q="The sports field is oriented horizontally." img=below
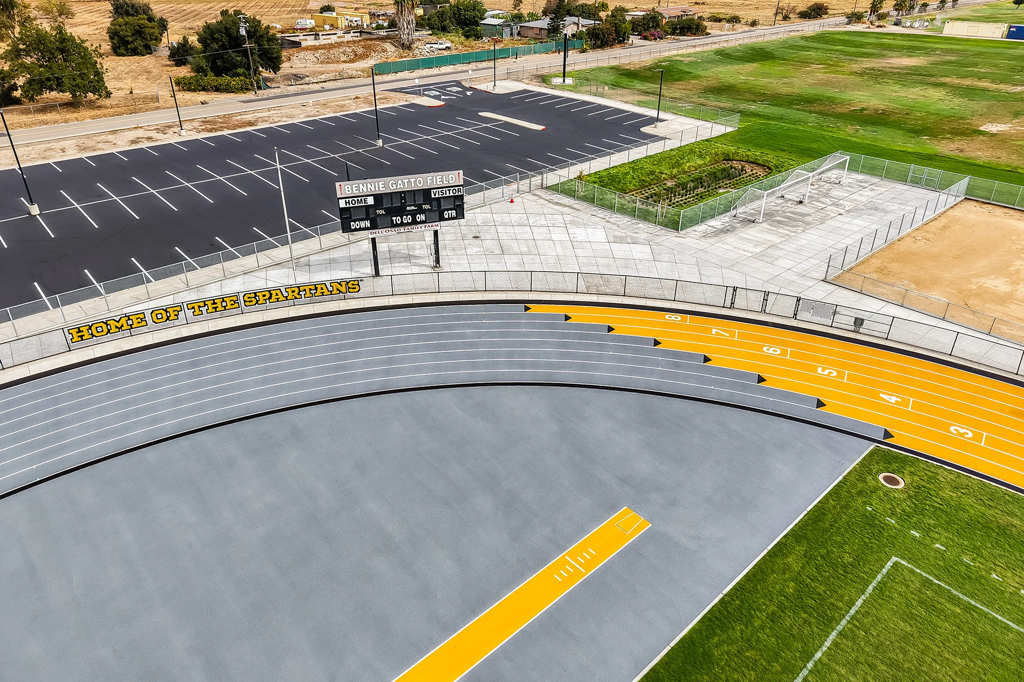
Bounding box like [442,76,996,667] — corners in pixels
[539,31,1024,208]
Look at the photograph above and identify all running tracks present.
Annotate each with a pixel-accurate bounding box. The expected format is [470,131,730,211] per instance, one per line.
[0,299,1024,500]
